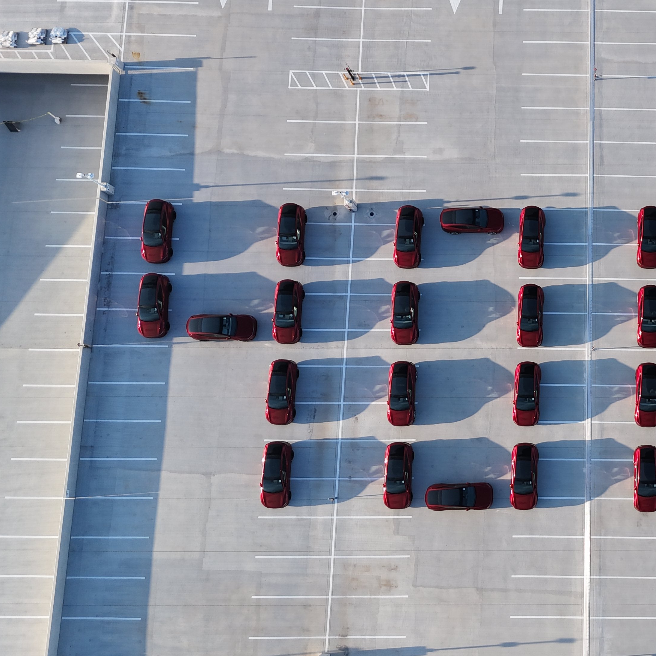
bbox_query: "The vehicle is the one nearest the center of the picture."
[270,280,304,343]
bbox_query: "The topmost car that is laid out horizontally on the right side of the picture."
[440,205,504,236]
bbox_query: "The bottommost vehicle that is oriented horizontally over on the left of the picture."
[186,313,256,342]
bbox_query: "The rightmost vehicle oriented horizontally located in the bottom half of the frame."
[425,483,493,512]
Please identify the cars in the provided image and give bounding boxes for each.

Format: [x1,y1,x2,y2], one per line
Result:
[425,483,493,512]
[274,203,308,267]
[388,281,420,345]
[635,362,656,427]
[257,441,294,509]
[632,446,656,512]
[509,442,538,510]
[138,199,177,263]
[440,205,504,236]
[517,205,545,269]
[270,280,304,343]
[263,360,300,425]
[636,284,656,348]
[135,274,172,337]
[381,442,414,509]
[512,361,542,426]
[392,205,424,269]
[186,313,256,342]
[385,361,418,426]
[516,283,544,347]
[636,205,656,269]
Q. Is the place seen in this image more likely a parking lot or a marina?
parking lot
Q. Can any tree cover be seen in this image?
No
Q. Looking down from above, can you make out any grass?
No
